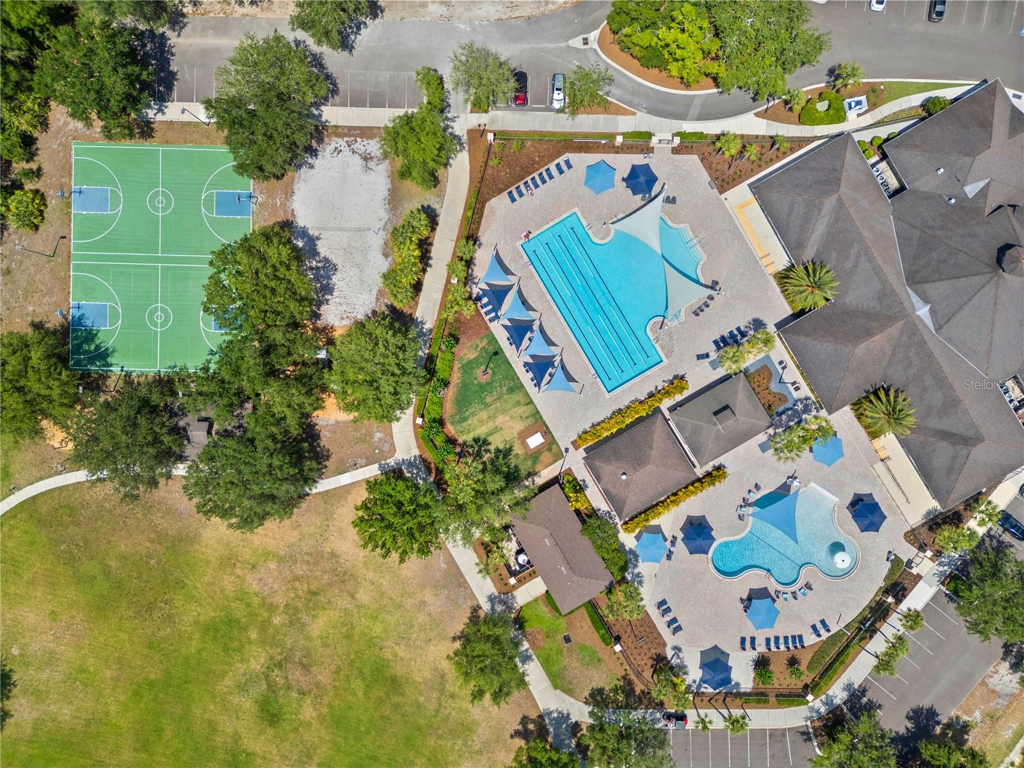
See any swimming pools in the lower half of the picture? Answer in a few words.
Yes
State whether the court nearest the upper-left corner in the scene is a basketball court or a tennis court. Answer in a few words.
basketball court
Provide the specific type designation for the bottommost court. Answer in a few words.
basketball court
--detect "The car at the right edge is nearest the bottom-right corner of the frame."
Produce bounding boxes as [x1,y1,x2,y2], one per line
[997,512,1024,539]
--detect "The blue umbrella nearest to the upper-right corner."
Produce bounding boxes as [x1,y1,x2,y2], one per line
[625,166,657,195]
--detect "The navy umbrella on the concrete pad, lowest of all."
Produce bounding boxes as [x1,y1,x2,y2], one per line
[700,655,730,689]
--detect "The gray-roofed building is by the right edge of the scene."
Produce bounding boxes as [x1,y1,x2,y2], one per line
[750,77,1024,510]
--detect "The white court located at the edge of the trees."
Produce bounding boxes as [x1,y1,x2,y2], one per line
[290,130,391,327]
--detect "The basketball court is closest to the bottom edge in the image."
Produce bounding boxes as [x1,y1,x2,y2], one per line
[70,257,250,376]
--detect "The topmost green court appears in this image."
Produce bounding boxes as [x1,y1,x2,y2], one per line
[71,141,252,261]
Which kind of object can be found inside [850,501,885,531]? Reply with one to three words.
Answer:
umbrella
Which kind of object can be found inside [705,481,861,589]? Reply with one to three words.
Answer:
swimming pool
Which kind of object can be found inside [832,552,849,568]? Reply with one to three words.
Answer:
fountain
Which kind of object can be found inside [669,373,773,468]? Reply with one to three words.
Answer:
building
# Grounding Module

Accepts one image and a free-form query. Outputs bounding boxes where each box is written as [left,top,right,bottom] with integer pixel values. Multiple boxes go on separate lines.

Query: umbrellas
[700,655,730,689]
[681,523,715,553]
[813,436,841,466]
[625,166,657,195]
[584,162,615,195]
[634,532,667,562]
[850,501,885,531]
[744,596,779,628]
